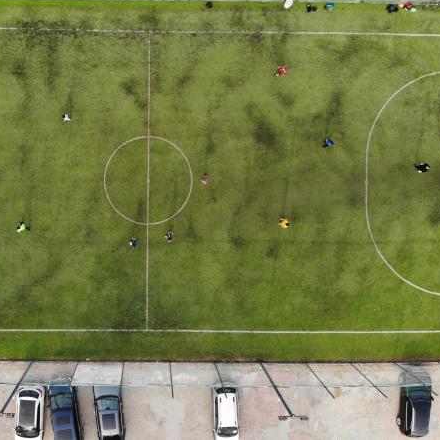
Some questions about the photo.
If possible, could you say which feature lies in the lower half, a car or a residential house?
car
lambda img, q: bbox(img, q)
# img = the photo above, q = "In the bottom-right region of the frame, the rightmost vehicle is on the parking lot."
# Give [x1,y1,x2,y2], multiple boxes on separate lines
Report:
[396,366,437,440]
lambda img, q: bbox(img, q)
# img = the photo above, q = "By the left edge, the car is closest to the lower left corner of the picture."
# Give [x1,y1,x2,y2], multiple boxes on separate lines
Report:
[8,382,44,440]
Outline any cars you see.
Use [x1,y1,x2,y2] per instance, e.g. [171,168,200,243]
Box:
[212,380,244,440]
[45,373,82,440]
[396,366,437,440]
[8,382,44,440]
[91,384,126,440]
